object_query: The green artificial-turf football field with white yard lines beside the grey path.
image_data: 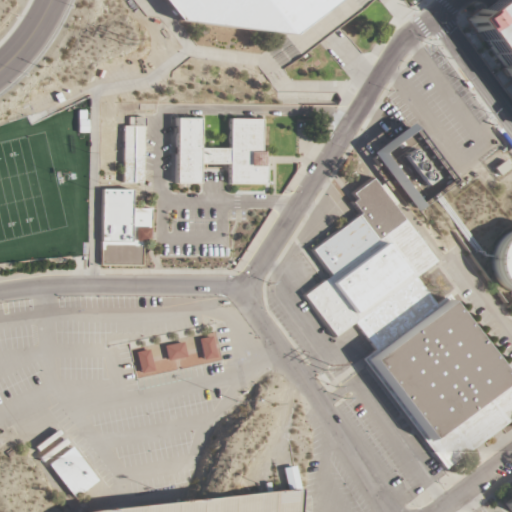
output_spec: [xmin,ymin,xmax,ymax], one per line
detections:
[0,96,91,262]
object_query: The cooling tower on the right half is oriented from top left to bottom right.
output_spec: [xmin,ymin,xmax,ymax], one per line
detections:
[404,150,443,186]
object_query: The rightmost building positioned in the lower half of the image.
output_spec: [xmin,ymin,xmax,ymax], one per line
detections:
[302,179,512,470]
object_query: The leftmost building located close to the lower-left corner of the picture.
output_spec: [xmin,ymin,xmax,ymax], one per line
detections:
[36,430,71,464]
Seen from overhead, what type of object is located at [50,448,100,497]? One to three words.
building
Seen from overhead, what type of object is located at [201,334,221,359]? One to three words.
building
